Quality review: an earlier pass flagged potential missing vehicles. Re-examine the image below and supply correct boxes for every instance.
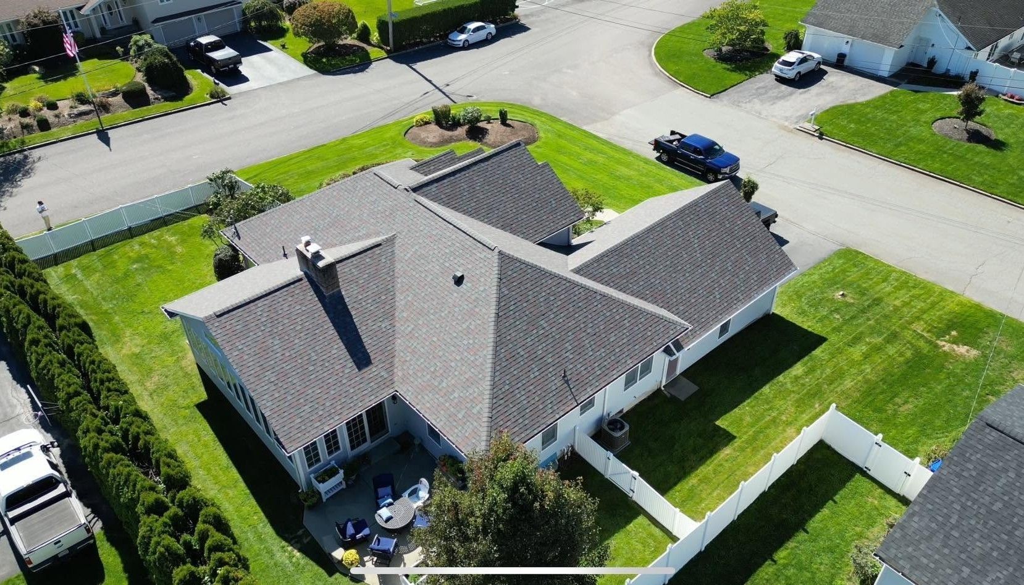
[746,201,781,236]
[771,48,824,81]
[648,124,748,184]
[0,435,94,580]
[444,22,498,49]
[187,36,243,73]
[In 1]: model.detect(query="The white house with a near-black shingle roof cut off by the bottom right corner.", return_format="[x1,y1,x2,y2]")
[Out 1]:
[868,385,1024,585]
